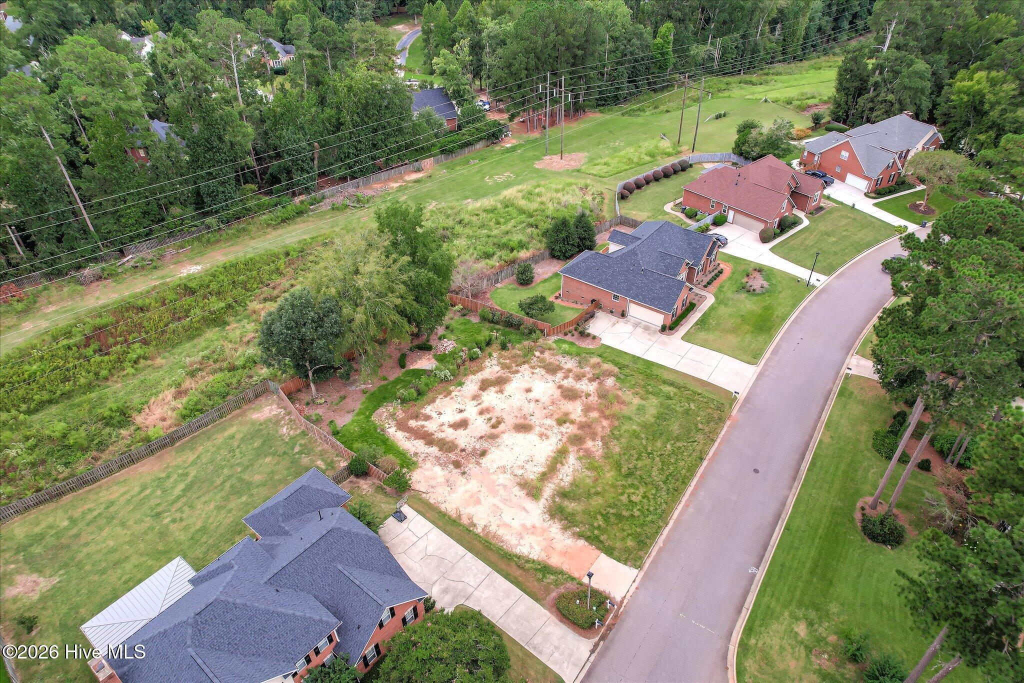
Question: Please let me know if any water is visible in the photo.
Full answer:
No, water can't be seen anywhere here.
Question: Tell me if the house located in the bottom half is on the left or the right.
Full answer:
The house located in the bottom half appears in the left half of the scene.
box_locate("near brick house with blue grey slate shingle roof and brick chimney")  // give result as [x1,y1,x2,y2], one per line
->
[80,468,428,683]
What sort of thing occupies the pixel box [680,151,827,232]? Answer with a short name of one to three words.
house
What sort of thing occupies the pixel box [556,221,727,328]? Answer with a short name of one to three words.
house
